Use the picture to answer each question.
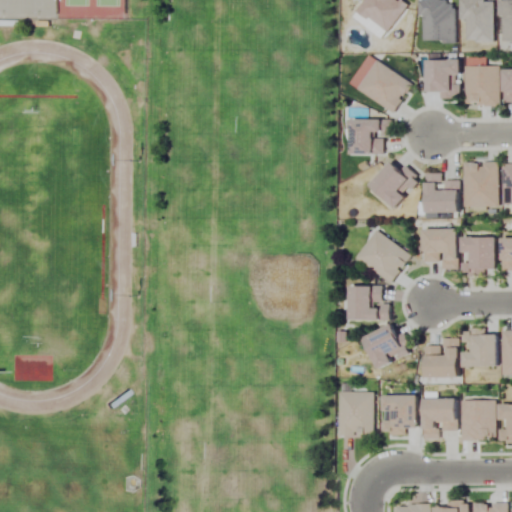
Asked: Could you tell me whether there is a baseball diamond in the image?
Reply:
Yes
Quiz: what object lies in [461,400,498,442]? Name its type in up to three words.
house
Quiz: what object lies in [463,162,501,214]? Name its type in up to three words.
house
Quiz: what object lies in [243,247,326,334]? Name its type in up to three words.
baseball field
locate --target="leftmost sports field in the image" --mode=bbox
[0,62,110,391]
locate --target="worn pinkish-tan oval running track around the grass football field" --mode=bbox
[0,40,133,414]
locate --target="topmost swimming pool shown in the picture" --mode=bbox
[349,29,370,49]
